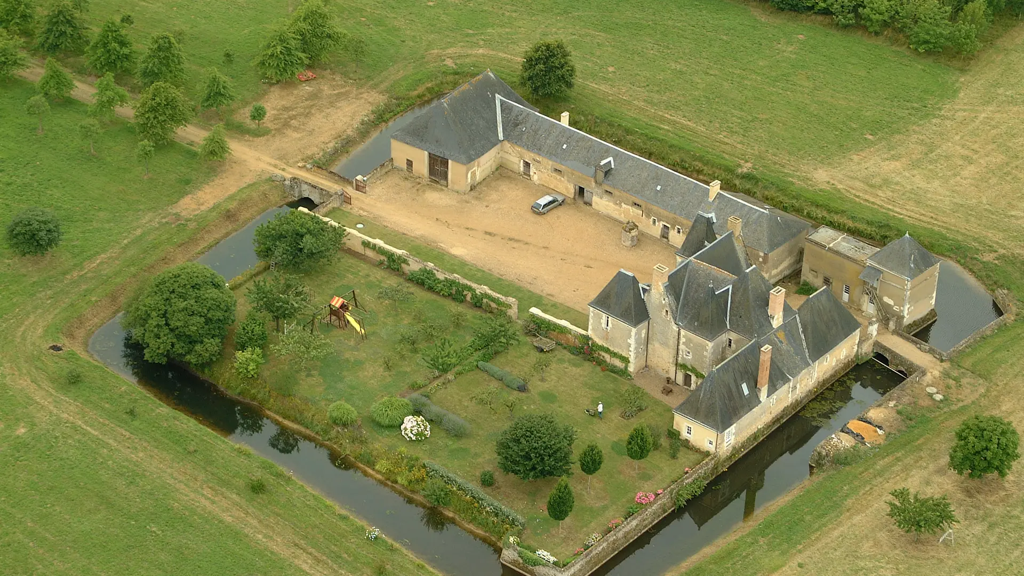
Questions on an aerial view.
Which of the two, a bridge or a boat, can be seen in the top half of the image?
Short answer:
bridge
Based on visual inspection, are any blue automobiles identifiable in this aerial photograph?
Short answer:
No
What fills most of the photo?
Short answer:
grass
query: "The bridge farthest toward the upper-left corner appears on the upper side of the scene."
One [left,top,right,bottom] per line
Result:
[284,167,357,207]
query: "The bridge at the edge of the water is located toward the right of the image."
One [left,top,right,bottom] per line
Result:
[872,336,948,381]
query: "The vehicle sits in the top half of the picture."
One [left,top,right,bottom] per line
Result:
[528,191,568,215]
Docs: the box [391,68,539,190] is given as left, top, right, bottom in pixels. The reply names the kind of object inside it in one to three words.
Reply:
barn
